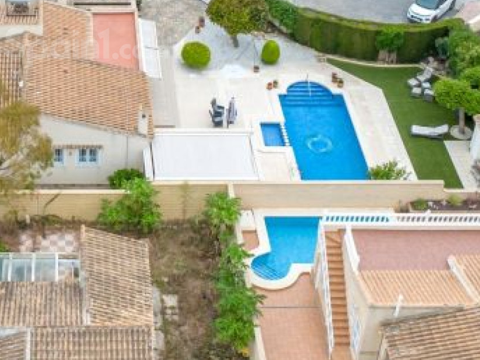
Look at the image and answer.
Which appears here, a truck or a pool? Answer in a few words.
pool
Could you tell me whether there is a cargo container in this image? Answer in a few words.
No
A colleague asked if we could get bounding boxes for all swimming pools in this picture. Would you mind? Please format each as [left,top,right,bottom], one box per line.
[272,76,379,179]
[256,119,291,147]
[238,202,337,316]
